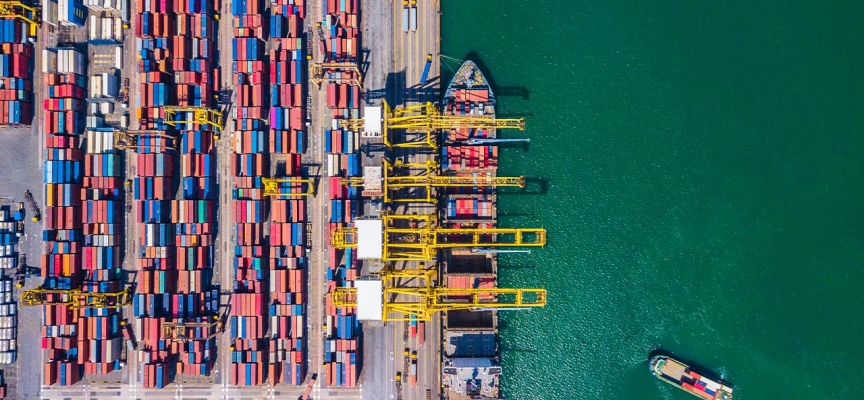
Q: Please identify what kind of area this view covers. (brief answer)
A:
port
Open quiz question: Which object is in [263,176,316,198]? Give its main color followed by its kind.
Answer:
yellow crane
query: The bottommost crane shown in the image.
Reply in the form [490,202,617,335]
[163,317,231,343]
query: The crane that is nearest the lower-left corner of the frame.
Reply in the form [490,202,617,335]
[22,283,84,309]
